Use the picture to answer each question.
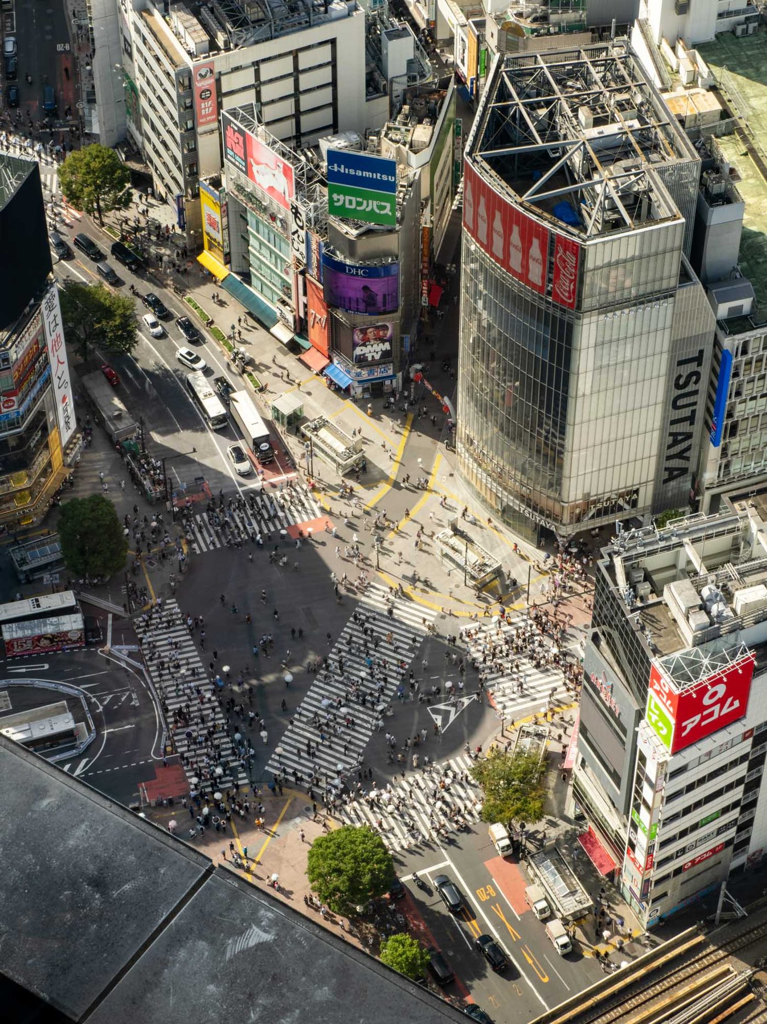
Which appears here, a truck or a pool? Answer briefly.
truck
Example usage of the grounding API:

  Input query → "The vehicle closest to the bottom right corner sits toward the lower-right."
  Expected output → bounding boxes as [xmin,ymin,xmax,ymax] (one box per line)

[548,915,576,951]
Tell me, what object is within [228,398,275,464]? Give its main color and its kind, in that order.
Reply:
white truck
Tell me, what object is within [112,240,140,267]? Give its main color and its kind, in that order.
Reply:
black car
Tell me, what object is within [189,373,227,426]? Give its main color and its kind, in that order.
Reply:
white bus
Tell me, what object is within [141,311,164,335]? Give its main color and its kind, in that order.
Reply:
white car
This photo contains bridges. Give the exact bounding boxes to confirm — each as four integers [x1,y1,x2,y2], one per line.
[549,894,767,1024]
